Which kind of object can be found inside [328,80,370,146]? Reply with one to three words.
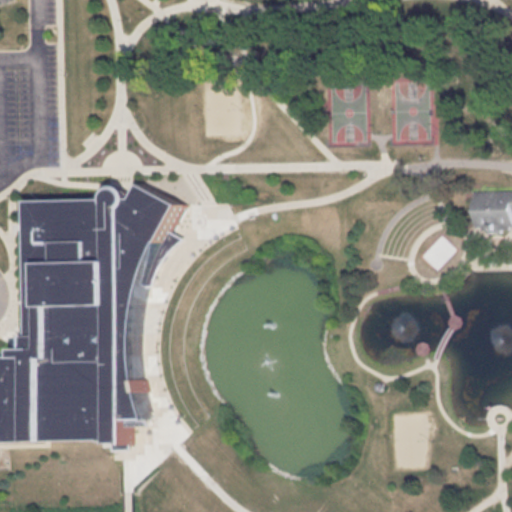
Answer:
basketball court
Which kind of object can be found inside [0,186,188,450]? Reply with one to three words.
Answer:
building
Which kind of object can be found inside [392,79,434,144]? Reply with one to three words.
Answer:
basketball court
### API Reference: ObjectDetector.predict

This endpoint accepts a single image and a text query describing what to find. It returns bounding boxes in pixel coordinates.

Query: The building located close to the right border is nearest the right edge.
[470,191,512,234]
